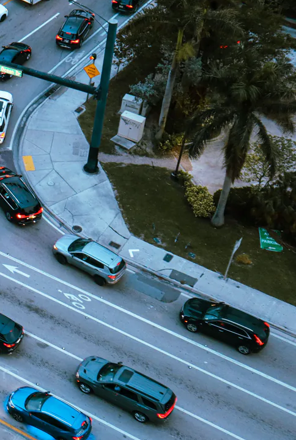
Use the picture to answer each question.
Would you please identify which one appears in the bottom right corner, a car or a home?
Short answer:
car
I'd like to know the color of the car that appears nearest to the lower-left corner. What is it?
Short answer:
blue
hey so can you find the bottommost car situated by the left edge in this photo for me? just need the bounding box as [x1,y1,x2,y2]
[7,386,98,440]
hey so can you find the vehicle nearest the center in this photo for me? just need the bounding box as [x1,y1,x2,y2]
[54,235,132,289]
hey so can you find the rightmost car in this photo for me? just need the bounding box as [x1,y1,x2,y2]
[180,297,279,358]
